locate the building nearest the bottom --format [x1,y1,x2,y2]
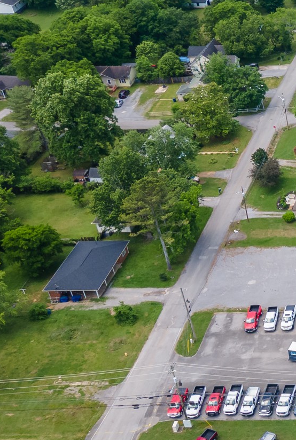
[50,287,169,310]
